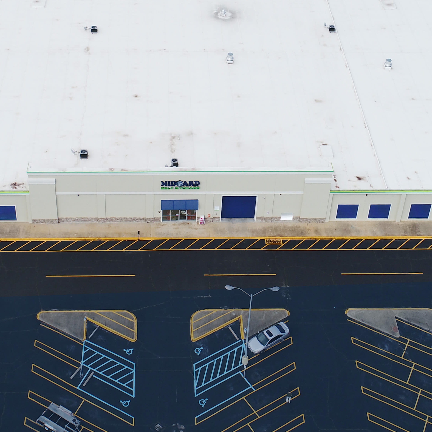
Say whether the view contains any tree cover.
No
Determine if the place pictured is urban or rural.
urban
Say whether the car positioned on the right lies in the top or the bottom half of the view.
bottom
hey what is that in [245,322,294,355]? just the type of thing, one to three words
car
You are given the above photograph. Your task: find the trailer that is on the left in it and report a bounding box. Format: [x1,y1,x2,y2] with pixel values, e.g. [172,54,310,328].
[37,405,84,432]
